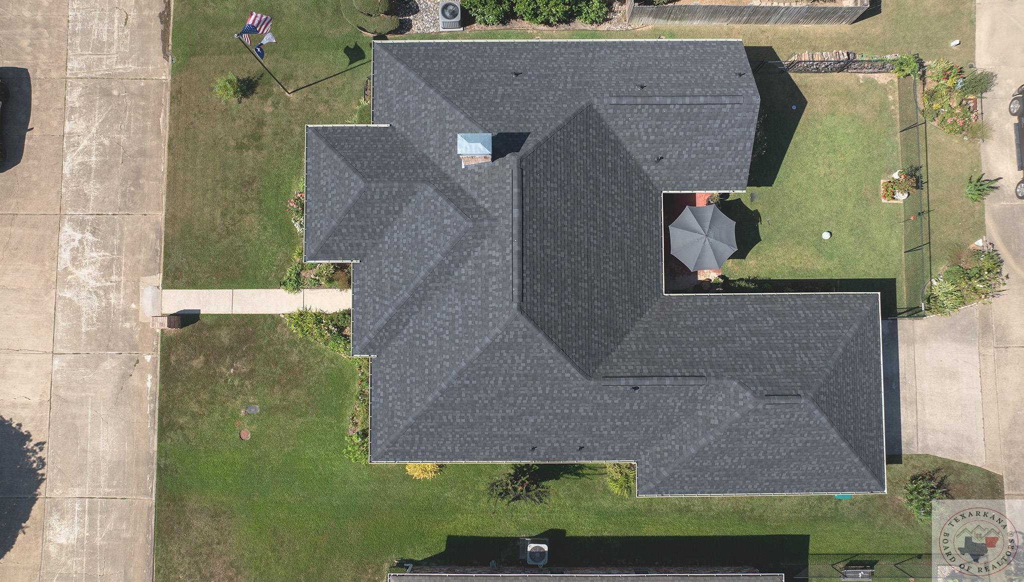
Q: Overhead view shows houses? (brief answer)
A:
Yes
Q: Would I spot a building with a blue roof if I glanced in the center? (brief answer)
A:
No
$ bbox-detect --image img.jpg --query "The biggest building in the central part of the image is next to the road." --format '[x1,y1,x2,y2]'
[303,40,887,496]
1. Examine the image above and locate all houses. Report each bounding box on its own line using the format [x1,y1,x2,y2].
[303,40,887,496]
[388,559,785,582]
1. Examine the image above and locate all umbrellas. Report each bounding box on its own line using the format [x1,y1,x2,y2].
[669,204,737,272]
